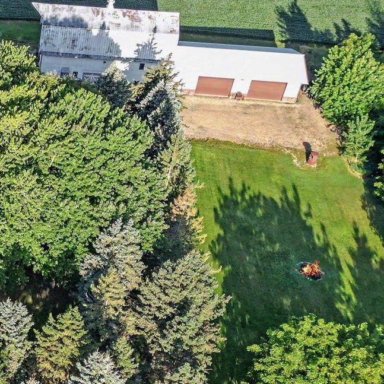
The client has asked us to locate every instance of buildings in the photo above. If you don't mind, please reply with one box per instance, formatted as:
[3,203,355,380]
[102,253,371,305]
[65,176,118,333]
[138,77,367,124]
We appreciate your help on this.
[33,0,181,87]
[177,40,310,105]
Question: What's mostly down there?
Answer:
trees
